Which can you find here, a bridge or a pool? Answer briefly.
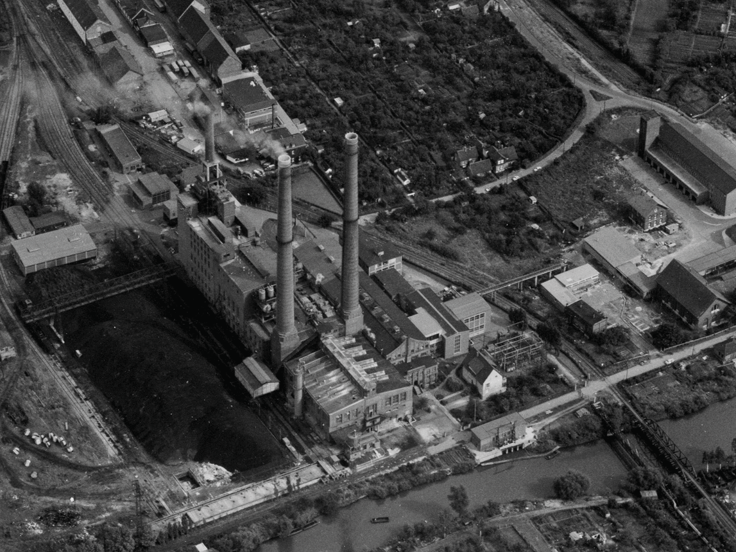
bridge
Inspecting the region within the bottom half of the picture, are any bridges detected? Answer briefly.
Yes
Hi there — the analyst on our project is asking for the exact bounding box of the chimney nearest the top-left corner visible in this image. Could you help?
[198,108,225,187]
